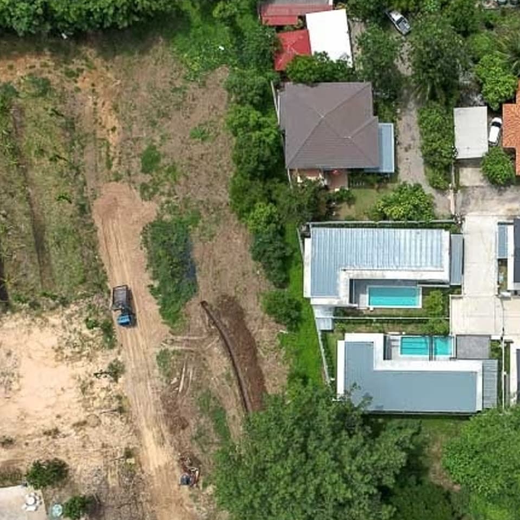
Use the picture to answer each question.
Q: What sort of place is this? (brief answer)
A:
residential area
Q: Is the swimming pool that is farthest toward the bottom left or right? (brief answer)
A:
right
